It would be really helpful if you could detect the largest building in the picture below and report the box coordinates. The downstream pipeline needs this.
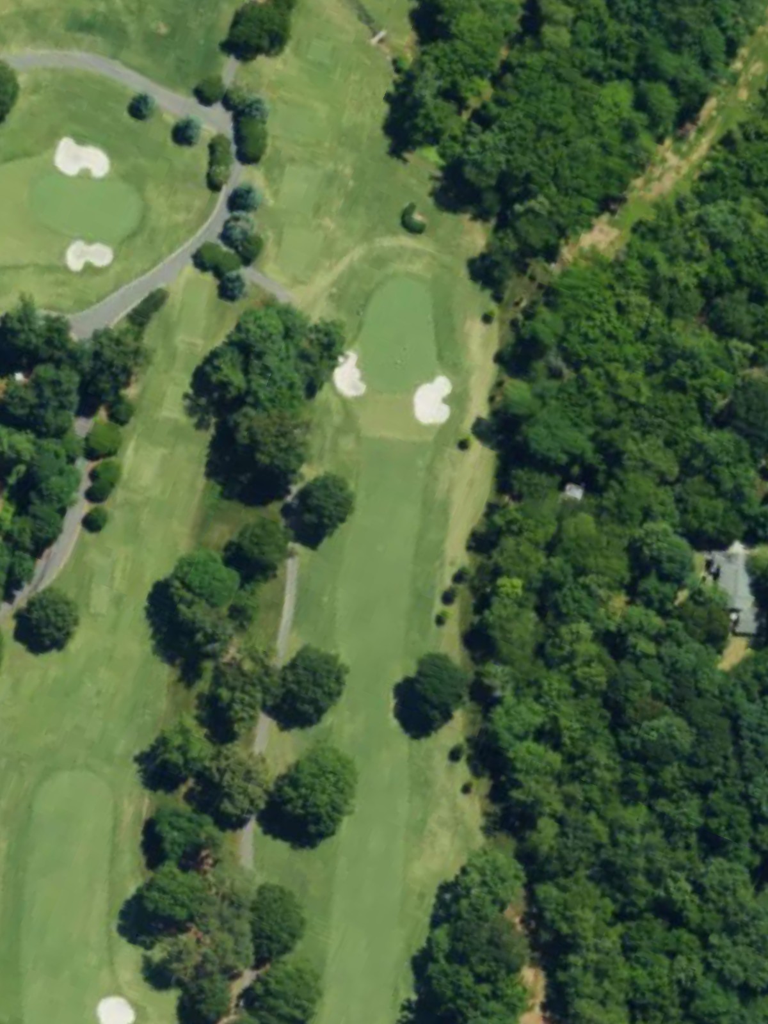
[707,541,762,634]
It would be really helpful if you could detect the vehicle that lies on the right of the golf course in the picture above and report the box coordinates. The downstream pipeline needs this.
[705,562,720,579]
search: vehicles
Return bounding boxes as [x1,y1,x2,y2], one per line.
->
[705,562,720,579]
[14,371,22,381]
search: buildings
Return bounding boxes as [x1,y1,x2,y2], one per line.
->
[564,484,585,500]
[707,541,762,634]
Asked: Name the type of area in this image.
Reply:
golf course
